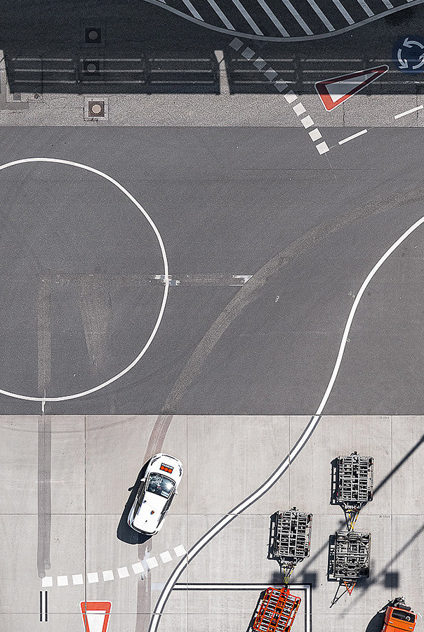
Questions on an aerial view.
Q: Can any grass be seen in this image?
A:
No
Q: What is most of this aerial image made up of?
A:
paved ground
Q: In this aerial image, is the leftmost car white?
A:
Yes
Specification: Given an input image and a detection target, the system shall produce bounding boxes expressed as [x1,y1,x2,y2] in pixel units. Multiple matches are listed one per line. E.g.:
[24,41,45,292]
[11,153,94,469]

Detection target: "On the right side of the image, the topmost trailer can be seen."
[337,452,373,529]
